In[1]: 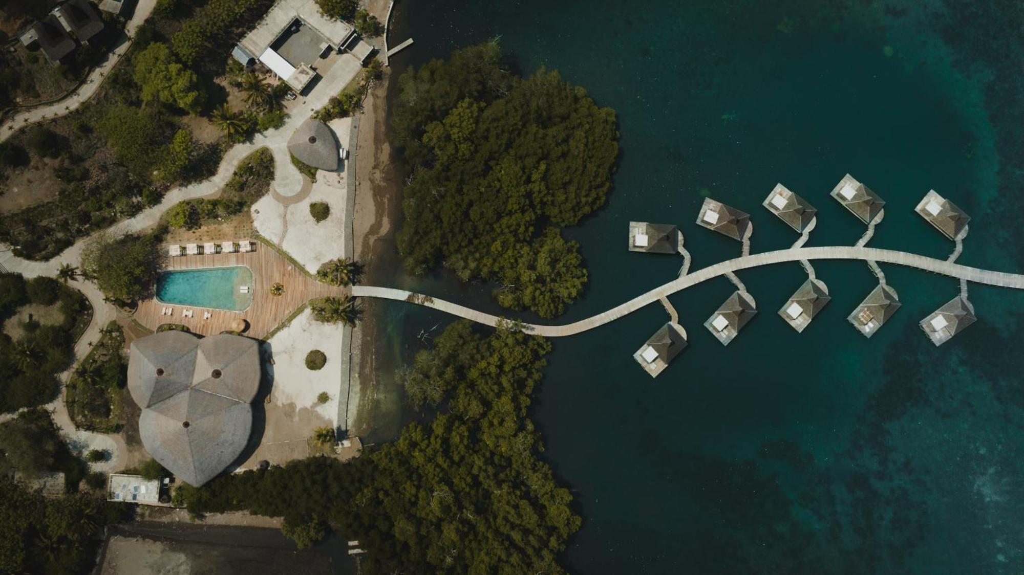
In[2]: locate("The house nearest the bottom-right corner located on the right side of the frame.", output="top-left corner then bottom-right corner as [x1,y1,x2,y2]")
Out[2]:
[918,296,978,346]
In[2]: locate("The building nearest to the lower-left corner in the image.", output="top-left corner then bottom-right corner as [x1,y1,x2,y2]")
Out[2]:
[127,330,260,488]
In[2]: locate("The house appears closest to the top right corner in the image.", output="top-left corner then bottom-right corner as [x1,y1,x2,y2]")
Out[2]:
[912,189,972,242]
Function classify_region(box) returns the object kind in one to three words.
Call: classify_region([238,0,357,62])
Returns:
building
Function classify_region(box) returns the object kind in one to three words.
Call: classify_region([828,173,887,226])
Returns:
house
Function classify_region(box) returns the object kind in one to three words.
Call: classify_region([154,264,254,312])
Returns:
swimming pool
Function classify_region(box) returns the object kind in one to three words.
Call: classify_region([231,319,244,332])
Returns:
umbrella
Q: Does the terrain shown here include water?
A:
Yes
